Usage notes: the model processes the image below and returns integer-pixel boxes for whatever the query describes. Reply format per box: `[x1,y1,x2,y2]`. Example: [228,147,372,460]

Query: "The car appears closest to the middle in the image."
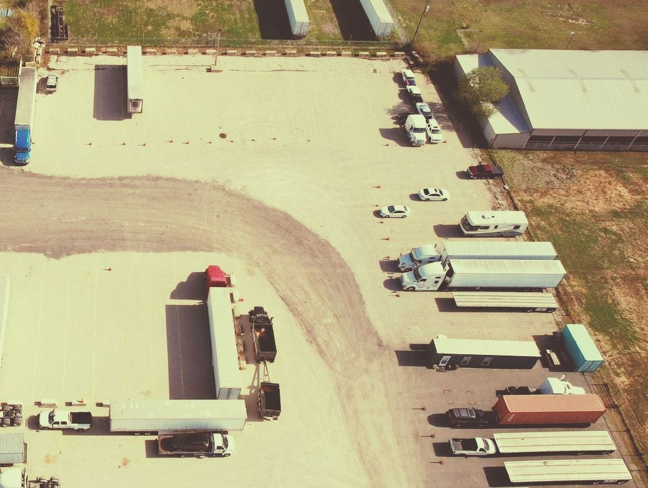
[377,205,411,220]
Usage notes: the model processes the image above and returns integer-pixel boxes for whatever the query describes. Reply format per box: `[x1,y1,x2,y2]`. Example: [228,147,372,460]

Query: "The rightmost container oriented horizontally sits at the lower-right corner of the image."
[493,393,606,426]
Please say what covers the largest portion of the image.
paved ground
